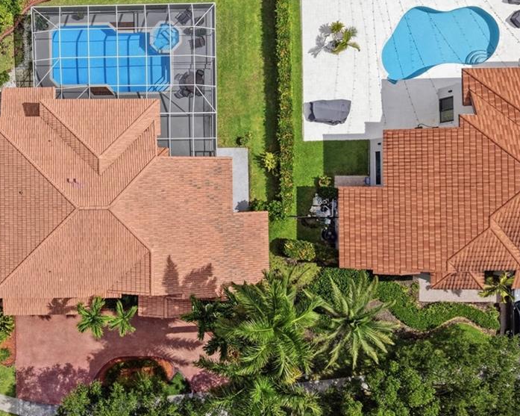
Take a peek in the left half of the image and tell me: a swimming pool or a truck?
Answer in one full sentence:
The feature located in the left half of the image is a swimming pool.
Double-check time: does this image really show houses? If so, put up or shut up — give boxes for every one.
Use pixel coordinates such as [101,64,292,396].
[0,88,269,319]
[333,67,520,291]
